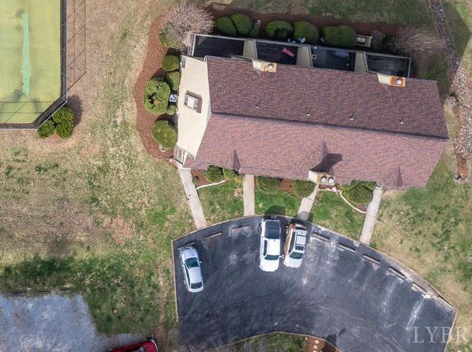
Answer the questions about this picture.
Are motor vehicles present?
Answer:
Yes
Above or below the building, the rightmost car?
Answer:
below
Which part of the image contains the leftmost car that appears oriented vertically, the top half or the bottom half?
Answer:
bottom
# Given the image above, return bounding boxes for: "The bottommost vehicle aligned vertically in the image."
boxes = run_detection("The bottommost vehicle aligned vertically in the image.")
[176,245,204,293]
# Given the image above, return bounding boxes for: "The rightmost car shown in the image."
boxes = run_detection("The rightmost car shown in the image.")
[282,221,308,269]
